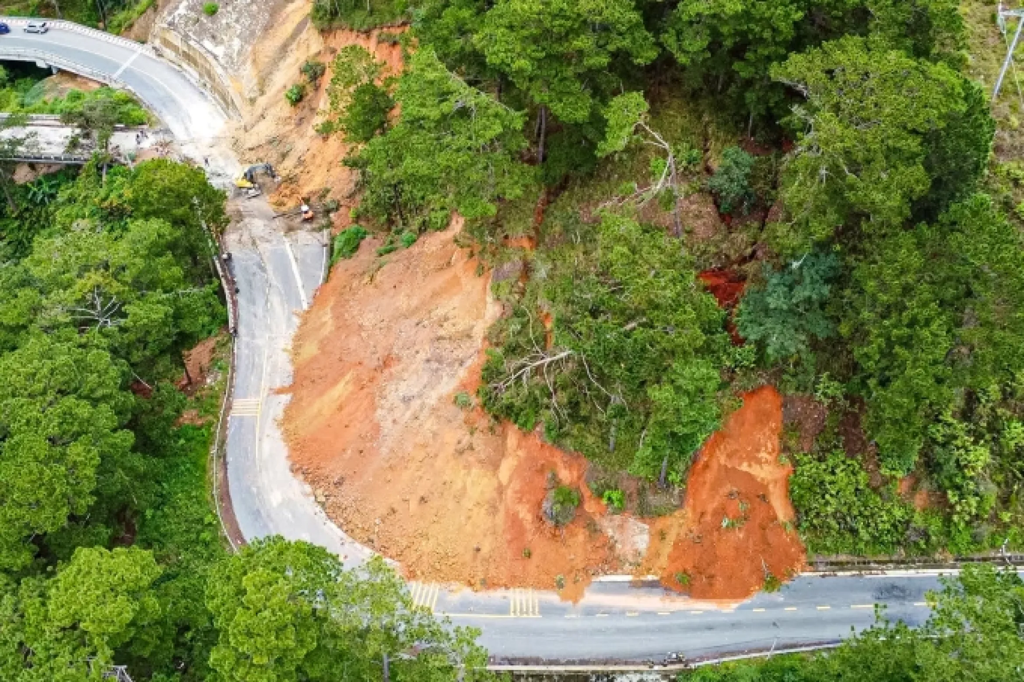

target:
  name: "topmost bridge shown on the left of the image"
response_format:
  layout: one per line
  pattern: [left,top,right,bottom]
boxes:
[0,21,149,94]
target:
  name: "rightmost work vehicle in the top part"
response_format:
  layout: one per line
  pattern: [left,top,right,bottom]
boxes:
[297,193,314,222]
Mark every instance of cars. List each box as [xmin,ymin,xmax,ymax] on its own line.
[0,23,11,36]
[17,19,50,36]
